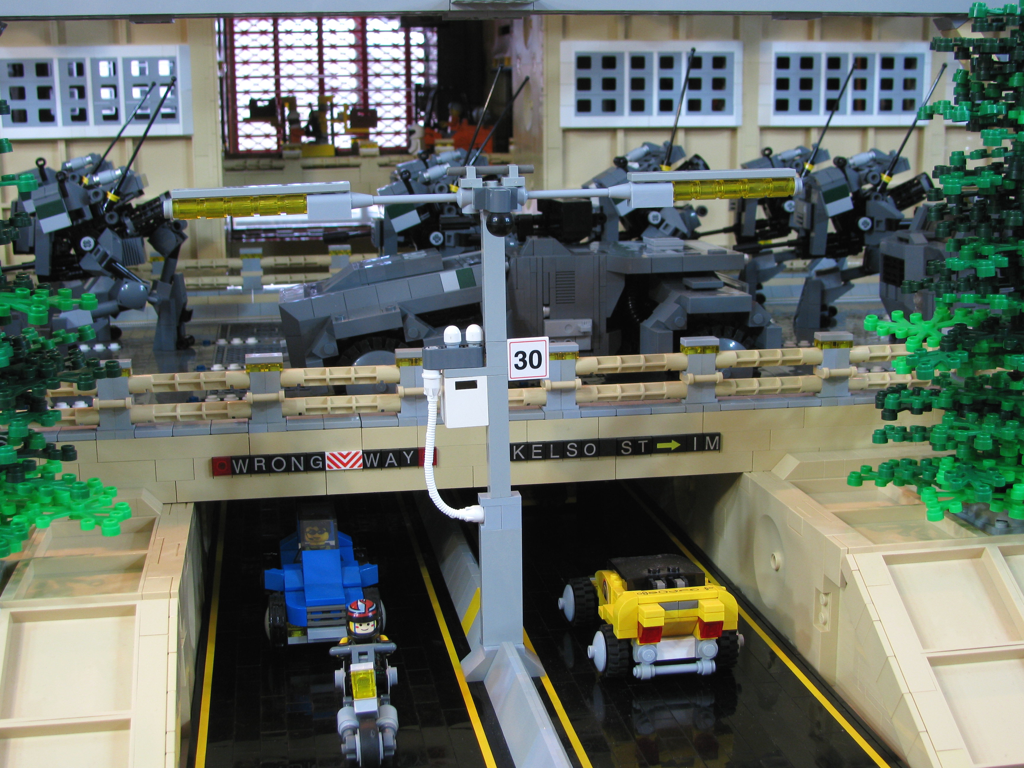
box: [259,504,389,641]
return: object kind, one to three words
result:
car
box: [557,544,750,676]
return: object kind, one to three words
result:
car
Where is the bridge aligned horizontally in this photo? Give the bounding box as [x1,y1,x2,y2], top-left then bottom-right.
[21,389,1022,503]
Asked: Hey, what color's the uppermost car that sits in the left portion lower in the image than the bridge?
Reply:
blue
